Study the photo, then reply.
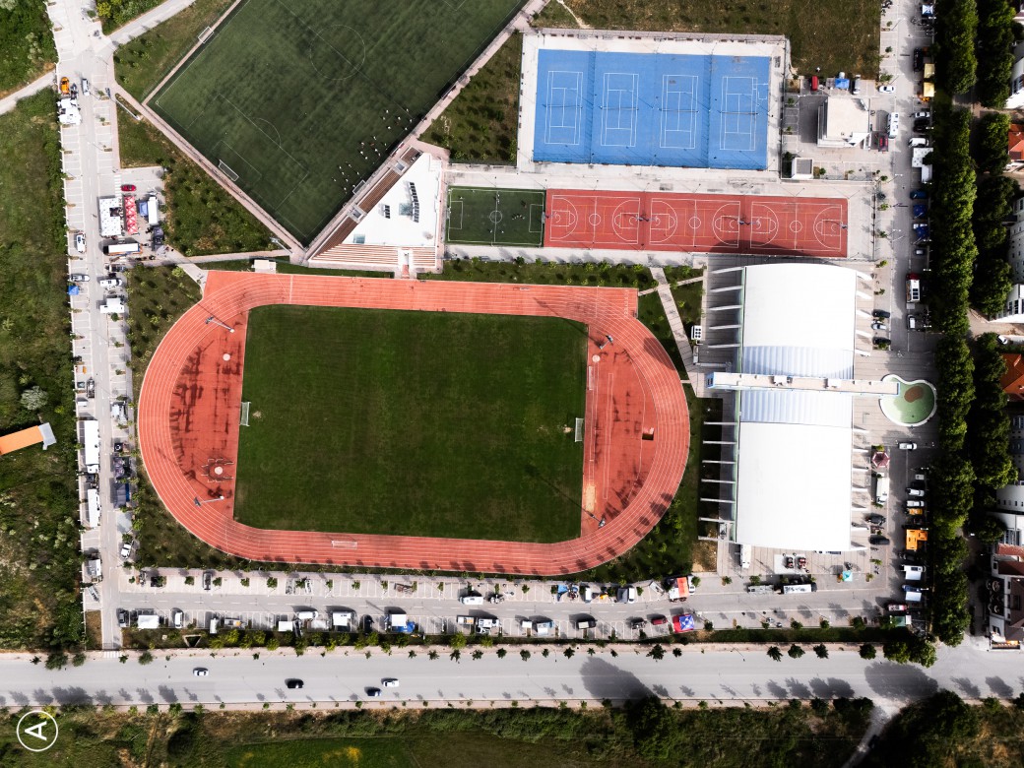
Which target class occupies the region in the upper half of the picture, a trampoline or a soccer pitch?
soccer pitch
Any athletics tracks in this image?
Yes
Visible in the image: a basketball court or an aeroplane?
basketball court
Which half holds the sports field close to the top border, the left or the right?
left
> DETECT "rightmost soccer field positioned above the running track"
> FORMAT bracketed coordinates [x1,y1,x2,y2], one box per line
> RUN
[446,188,545,246]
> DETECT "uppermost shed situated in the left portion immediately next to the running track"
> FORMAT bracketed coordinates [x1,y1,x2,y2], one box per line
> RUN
[254,259,278,275]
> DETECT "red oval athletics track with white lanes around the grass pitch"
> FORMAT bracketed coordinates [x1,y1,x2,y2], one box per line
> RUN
[136,269,692,577]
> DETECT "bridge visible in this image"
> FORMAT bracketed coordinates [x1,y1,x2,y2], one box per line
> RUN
[705,372,901,397]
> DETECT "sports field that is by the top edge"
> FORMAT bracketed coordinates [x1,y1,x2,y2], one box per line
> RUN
[143,0,525,245]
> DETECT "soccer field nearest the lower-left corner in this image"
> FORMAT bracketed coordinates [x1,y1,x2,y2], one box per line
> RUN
[233,304,587,543]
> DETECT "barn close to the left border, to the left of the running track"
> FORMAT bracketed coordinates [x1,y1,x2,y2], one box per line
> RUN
[0,423,58,460]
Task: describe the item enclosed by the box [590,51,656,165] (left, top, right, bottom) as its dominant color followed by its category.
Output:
blue tennis court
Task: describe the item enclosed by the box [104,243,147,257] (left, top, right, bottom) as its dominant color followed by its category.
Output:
white vehicle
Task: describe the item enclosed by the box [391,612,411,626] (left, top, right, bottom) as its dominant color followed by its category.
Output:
white camper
